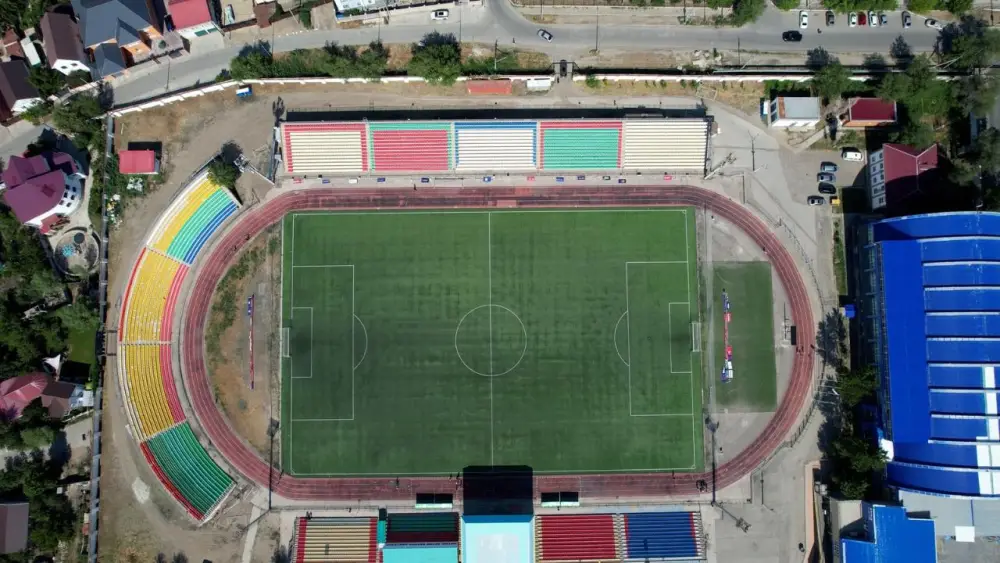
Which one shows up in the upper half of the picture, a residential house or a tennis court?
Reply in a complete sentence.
The feature located in the upper half of the picture is a residential house.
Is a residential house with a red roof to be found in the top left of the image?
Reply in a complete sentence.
Yes, a residential house with a red roof is visible in the top left of the image.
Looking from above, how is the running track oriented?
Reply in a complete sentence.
What the image shows is the running track lying horizontally.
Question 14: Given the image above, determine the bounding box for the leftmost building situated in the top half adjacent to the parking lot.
[771,97,820,124]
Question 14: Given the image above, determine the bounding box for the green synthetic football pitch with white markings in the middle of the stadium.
[280,208,706,476]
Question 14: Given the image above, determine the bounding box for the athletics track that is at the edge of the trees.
[183,184,817,502]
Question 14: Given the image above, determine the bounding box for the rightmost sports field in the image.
[714,261,777,414]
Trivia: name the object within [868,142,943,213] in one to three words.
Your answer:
building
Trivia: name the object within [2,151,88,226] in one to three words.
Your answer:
house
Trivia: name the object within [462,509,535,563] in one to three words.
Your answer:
building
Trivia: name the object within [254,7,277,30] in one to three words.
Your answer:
shed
